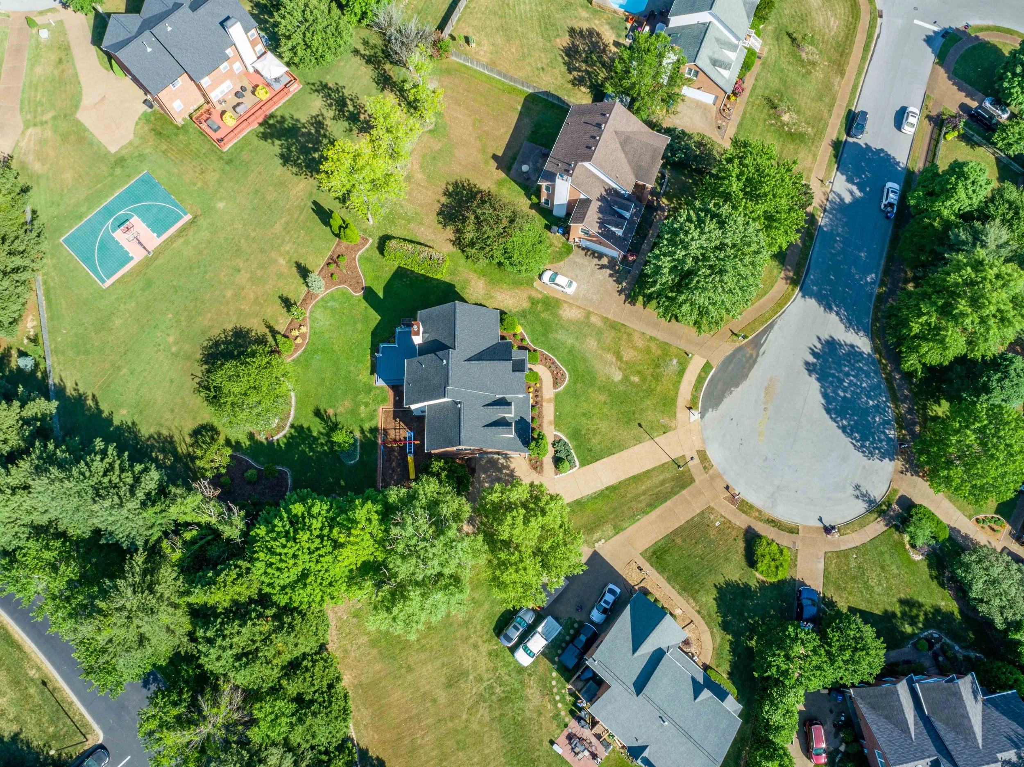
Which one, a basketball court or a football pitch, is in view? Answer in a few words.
basketball court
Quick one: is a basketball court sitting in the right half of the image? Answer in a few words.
No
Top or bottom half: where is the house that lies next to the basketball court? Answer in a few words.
top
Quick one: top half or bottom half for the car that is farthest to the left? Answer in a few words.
bottom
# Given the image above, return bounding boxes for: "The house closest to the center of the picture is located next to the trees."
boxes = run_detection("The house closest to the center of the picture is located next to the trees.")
[404,303,532,454]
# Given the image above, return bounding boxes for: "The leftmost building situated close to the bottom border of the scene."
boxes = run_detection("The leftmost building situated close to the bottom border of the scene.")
[585,593,742,767]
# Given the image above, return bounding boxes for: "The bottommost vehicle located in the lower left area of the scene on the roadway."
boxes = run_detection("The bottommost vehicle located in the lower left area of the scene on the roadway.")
[81,741,114,767]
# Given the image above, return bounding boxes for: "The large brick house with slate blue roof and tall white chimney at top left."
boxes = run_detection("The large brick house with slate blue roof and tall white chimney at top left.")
[102,0,267,117]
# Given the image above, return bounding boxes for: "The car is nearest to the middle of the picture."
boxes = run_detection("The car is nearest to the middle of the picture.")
[541,272,577,295]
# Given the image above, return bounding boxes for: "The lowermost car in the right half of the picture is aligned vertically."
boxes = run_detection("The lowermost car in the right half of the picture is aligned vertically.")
[807,721,829,764]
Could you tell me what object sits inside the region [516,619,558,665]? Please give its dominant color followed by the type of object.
white truck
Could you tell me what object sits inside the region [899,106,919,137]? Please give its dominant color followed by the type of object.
white car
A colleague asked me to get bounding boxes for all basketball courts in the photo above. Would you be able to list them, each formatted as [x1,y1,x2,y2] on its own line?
[59,169,192,289]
